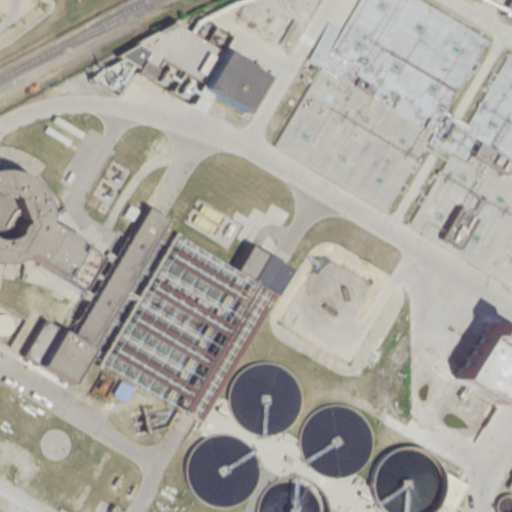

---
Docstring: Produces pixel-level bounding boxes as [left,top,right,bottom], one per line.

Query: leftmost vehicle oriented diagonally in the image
[2,377,18,391]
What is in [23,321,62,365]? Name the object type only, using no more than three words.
shed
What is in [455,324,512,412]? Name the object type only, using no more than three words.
building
